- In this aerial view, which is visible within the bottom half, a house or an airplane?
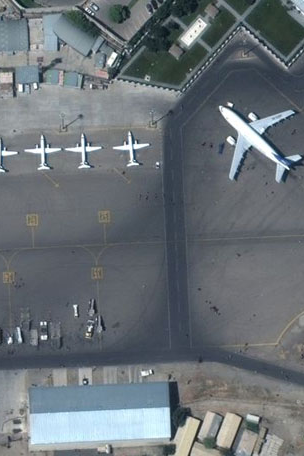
house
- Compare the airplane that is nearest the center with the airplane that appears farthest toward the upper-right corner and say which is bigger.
the airplane that appears farthest toward the upper-right corner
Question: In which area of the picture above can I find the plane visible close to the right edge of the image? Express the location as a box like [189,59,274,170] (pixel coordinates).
[219,108,303,181]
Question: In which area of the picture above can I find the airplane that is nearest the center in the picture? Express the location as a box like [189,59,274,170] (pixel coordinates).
[113,133,150,164]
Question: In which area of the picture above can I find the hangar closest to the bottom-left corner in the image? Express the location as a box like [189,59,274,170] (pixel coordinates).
[30,383,171,449]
